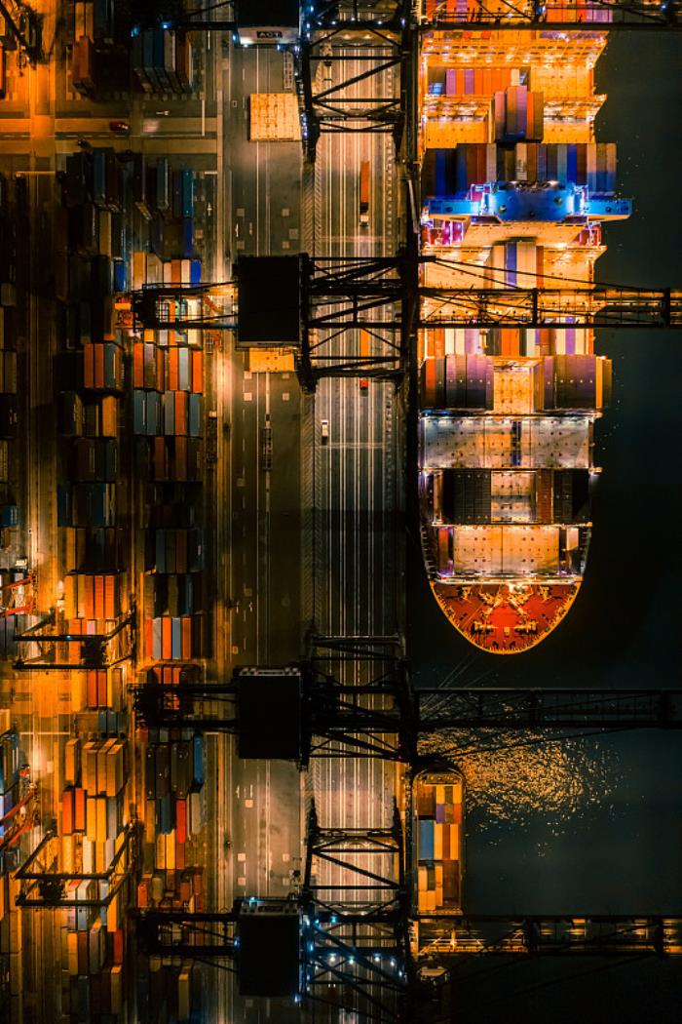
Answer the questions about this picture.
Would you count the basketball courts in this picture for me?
none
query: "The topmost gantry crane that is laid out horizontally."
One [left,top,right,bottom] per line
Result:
[116,0,682,159]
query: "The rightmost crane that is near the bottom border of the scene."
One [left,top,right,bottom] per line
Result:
[116,798,682,1024]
